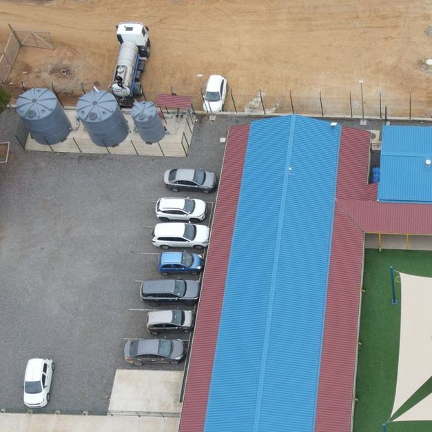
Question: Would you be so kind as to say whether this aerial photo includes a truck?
Yes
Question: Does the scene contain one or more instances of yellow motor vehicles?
No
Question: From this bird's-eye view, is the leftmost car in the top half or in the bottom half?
bottom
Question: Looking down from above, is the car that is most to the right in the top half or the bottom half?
top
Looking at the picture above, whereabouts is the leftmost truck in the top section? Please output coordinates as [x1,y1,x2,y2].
[115,23,158,102]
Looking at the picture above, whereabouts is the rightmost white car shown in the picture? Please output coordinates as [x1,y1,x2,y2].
[199,72,229,116]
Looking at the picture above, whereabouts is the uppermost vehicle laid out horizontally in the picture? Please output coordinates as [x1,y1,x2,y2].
[162,168,219,195]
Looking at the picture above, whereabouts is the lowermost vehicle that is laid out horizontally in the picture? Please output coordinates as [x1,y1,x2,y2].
[124,337,189,367]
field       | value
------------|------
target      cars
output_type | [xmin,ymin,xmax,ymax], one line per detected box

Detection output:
[199,72,229,116]
[149,223,210,252]
[152,195,209,224]
[136,278,201,308]
[157,250,206,277]
[144,308,197,336]
[124,337,189,367]
[19,358,57,409]
[162,168,219,195]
